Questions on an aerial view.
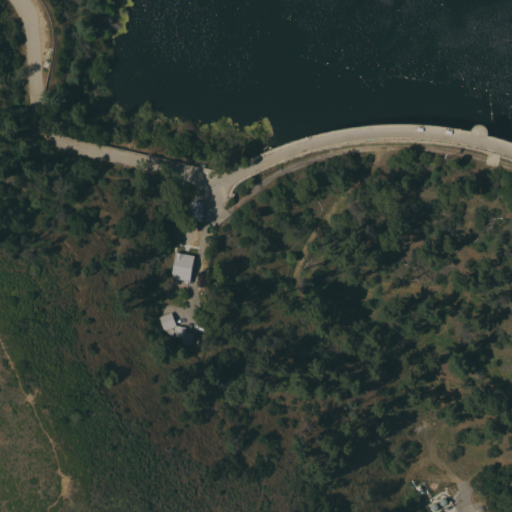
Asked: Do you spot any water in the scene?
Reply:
Yes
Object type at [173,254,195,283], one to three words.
house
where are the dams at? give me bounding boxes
[234,124,512,184]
